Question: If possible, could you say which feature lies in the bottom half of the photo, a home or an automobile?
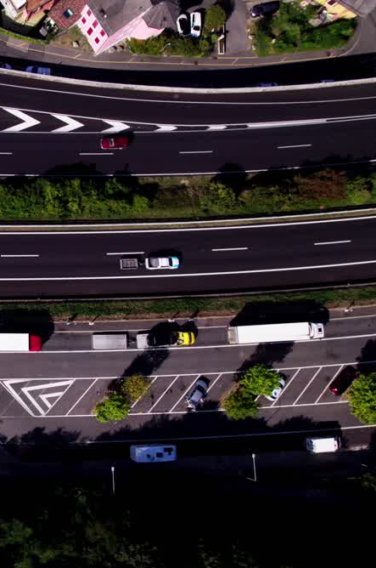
automobile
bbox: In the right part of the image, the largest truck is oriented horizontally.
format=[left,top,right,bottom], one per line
[224,322,320,344]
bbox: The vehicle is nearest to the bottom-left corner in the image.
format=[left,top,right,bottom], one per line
[126,444,175,462]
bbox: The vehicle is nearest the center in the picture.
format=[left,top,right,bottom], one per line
[146,256,178,270]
